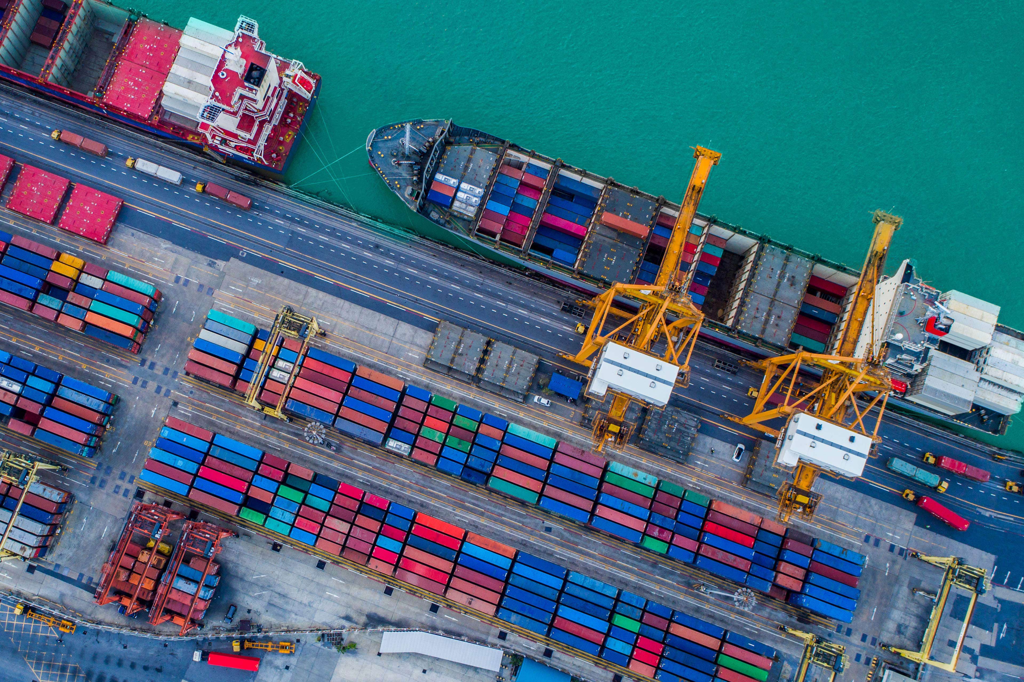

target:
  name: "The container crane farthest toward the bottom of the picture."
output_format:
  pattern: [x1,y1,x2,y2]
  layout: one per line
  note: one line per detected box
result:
[773,622,852,682]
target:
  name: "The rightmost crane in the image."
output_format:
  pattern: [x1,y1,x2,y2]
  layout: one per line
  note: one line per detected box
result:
[882,551,992,676]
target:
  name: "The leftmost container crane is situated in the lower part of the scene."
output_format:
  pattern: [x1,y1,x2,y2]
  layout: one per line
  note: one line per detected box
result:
[0,447,69,564]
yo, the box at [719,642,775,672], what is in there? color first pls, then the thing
red shipping container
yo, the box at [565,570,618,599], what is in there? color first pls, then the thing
blue shipping container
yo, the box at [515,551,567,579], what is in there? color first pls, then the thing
blue shipping container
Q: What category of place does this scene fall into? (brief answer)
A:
port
